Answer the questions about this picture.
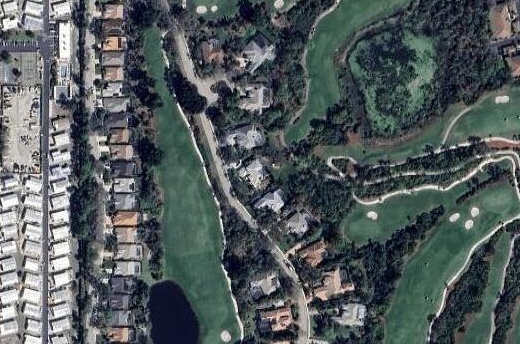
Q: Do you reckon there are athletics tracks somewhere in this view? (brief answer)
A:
No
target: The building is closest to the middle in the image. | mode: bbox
[243,153,278,191]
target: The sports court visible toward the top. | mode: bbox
[20,52,35,86]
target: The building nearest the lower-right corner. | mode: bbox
[337,304,369,329]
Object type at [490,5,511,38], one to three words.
building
